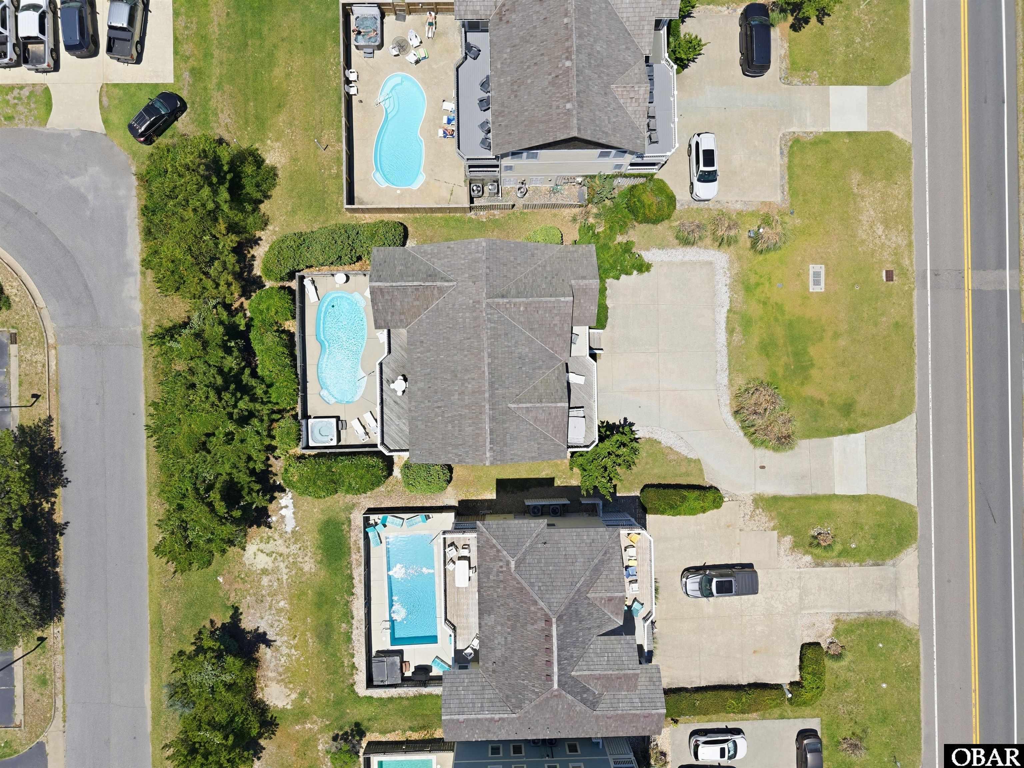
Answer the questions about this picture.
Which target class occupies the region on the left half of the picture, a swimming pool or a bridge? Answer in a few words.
swimming pool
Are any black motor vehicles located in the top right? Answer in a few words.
Yes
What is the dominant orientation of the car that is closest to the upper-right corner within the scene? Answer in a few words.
up and down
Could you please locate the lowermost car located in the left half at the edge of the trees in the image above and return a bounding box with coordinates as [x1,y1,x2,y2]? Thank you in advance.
[128,92,191,143]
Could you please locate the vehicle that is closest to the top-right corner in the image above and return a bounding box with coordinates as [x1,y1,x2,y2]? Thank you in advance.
[733,5,770,81]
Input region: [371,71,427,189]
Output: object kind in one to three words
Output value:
swimming pool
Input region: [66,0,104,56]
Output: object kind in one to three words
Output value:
car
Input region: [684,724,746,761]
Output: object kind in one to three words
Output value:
car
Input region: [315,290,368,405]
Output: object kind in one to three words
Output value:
swimming pool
